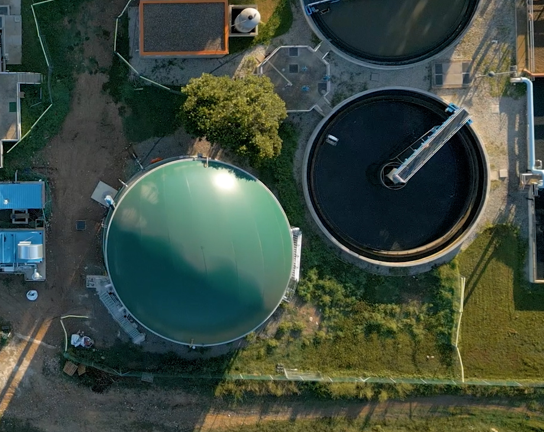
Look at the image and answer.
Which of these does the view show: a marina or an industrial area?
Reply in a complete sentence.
This image shows an industrial area.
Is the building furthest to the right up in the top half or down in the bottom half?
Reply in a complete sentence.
Seen from above, the building furthest to the right lies in the top half of the view.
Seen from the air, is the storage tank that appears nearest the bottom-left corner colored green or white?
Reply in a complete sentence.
In this view, the storage tank that appears nearest the bottom-left corner is green.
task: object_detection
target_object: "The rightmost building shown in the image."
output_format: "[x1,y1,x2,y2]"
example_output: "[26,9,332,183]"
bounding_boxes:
[136,0,229,59]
